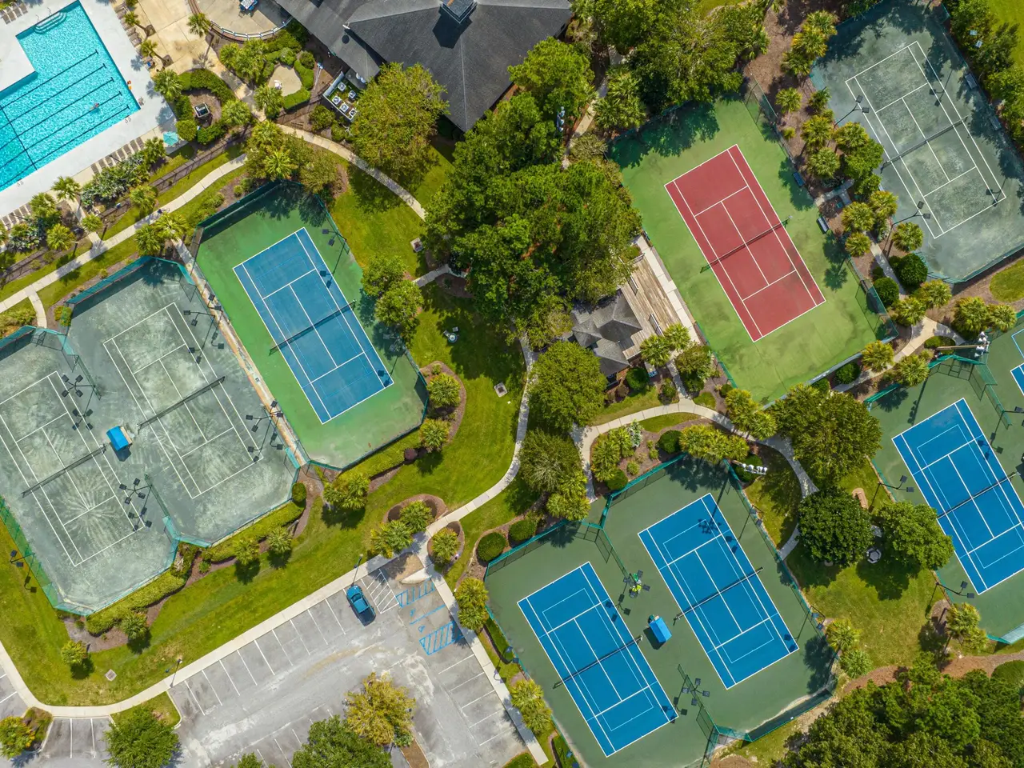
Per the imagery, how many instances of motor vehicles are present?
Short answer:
1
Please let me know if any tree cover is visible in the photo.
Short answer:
Yes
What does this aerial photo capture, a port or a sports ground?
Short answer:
sports ground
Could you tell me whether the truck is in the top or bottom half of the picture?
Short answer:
bottom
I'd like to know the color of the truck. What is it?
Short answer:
blue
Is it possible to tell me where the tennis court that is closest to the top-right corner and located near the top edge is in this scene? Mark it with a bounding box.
[803,8,1024,282]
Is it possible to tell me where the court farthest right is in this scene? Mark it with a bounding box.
[976,320,1024,440]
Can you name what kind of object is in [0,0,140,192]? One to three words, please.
swimming pool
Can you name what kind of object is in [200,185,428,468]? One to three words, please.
tennis court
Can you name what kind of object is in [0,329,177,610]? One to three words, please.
tennis court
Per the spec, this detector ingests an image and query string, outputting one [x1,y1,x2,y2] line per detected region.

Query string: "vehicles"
[347,586,379,630]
